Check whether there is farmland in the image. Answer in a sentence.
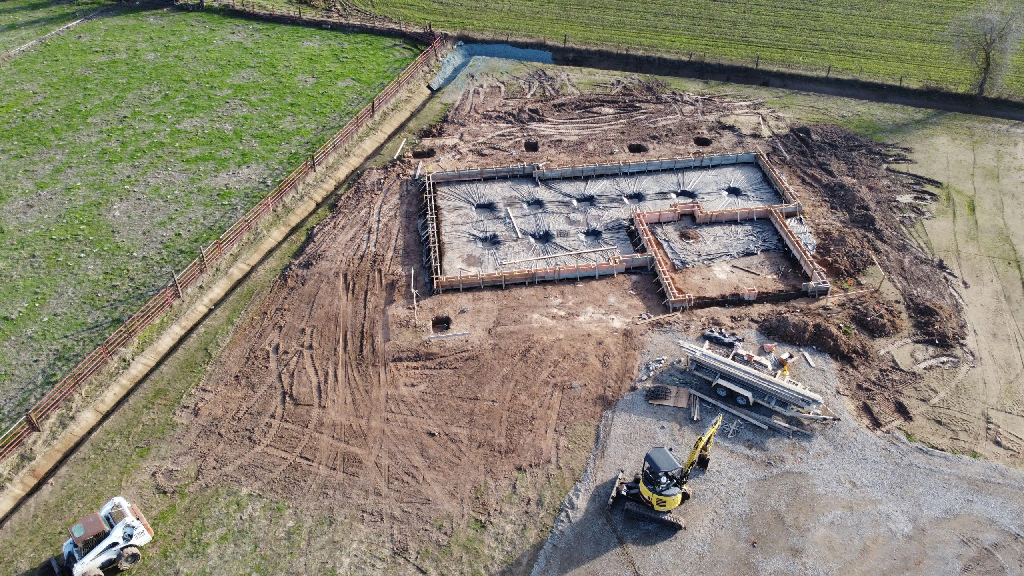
Yes, farmland can be seen from above here.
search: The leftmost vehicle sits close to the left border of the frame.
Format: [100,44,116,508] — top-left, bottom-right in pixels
[40,502,157,576]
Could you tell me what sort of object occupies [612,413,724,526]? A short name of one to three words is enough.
work vehicle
